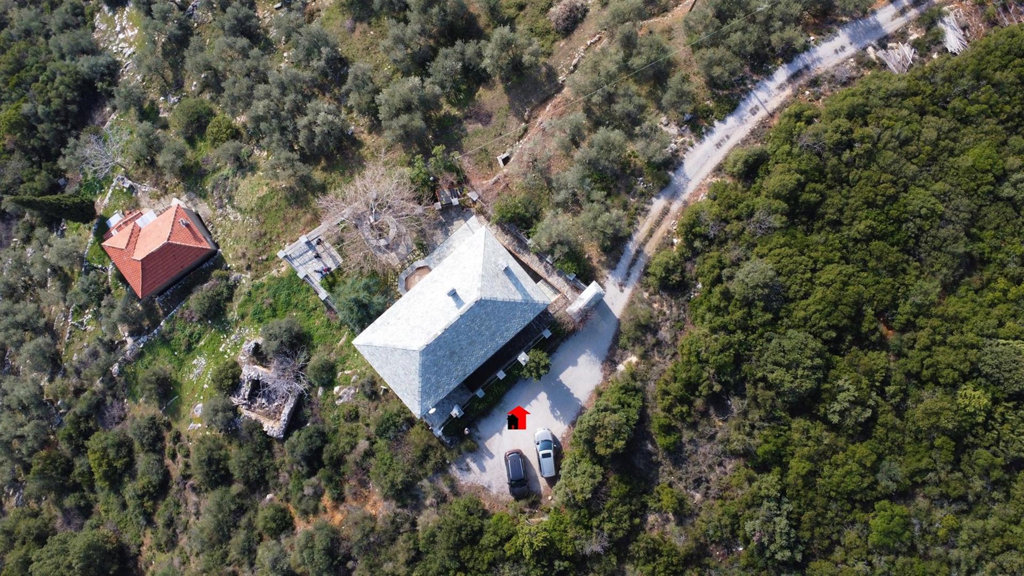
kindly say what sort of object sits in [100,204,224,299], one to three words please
house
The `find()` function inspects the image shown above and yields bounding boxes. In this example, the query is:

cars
[534,426,559,480]
[505,449,530,498]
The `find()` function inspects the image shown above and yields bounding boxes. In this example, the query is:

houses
[100,204,224,299]
[351,225,551,419]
